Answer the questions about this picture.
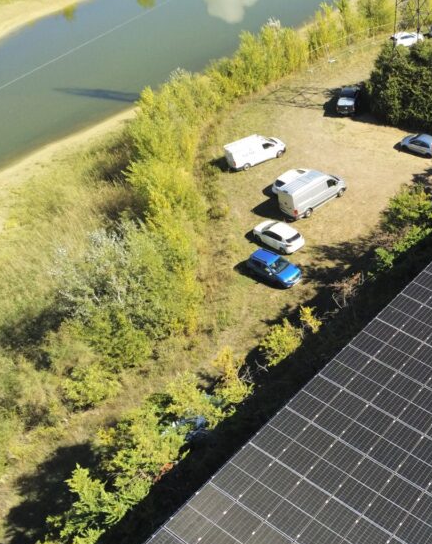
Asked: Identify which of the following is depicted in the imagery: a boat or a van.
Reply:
van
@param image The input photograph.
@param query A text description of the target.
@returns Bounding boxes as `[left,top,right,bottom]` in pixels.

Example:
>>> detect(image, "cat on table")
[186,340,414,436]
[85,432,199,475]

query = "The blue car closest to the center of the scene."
[244,246,305,290]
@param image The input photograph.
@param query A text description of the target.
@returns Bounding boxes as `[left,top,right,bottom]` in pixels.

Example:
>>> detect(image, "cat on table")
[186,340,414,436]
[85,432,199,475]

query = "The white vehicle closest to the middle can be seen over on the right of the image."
[249,222,310,257]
